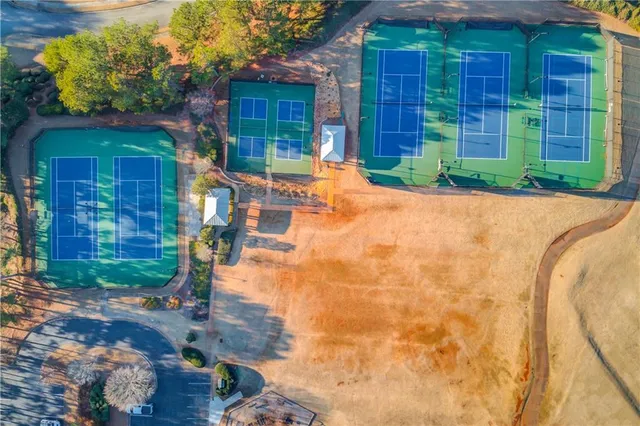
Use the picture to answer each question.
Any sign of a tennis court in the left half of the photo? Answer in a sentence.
Yes, in the left half of the photo there is a tennis court.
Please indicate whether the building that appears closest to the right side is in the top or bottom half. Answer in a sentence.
The top half of the photo is where the building that appears closest to the right side is.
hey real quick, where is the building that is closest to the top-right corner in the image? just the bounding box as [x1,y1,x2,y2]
[319,124,346,164]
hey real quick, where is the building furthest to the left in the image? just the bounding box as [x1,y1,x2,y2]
[203,189,232,226]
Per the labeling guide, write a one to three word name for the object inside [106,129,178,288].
tennis court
